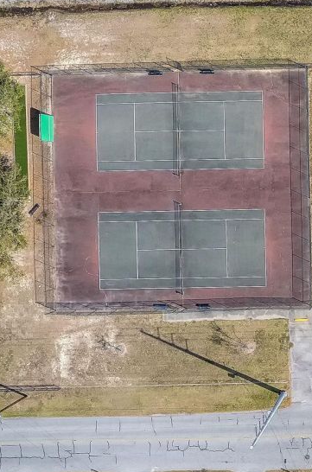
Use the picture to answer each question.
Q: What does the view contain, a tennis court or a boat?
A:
tennis court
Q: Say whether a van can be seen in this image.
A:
No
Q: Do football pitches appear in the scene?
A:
No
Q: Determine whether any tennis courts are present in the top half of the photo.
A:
Yes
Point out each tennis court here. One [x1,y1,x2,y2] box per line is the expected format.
[54,189,312,311]
[53,68,311,192]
